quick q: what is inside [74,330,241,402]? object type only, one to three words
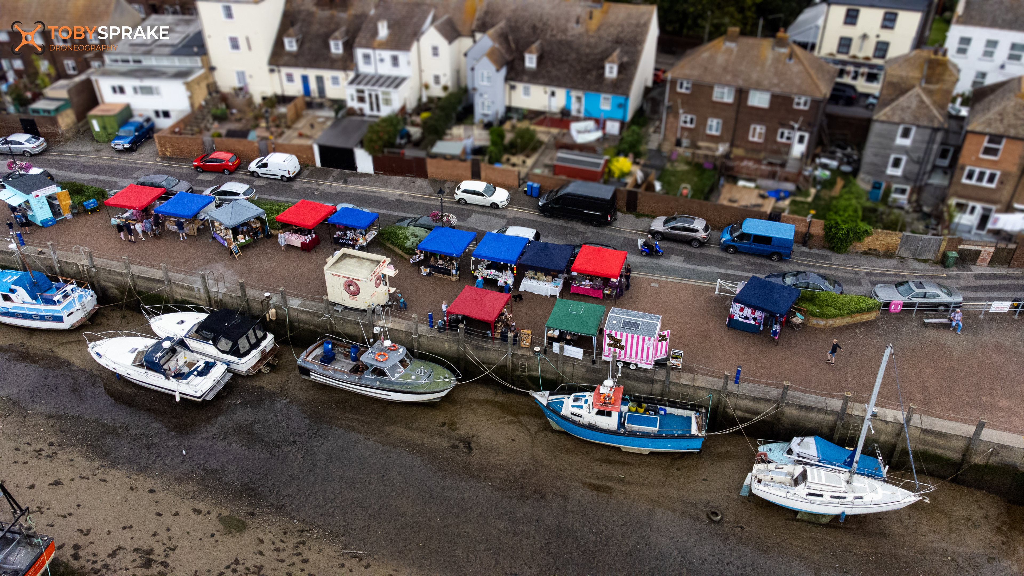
boat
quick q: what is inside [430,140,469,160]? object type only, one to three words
shed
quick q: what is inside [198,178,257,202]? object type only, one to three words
car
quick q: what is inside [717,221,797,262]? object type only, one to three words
van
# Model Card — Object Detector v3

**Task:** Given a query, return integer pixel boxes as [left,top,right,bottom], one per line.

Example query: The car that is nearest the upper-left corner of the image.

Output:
[0,133,47,156]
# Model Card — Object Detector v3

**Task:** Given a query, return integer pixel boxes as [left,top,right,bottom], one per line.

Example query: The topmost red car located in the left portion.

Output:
[189,151,244,175]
